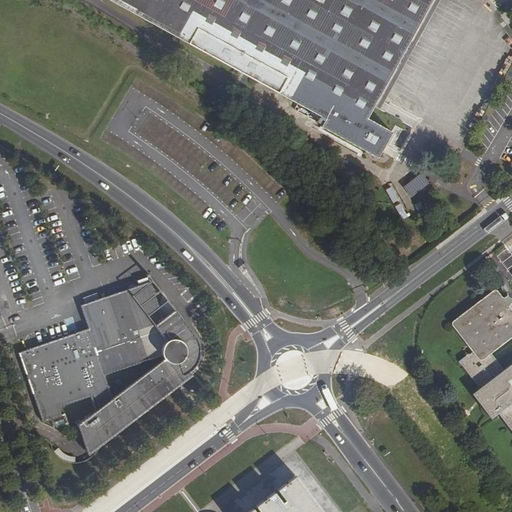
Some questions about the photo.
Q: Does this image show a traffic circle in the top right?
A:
No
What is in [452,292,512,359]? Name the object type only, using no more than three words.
building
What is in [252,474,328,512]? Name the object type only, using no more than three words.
building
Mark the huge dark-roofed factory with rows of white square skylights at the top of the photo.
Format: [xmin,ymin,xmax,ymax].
[115,0,438,160]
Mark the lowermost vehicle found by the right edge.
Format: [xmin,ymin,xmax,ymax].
[484,214,508,233]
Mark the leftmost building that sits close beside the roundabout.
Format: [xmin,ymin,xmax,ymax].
[20,271,203,454]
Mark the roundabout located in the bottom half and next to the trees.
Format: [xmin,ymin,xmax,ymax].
[226,308,362,444]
